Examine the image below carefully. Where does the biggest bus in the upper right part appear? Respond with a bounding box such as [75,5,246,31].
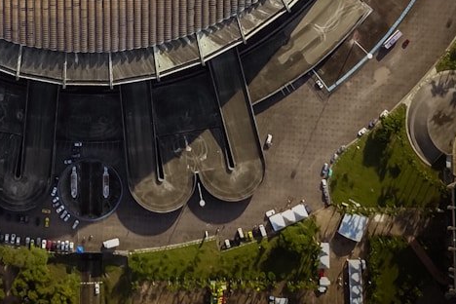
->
[382,27,402,50]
